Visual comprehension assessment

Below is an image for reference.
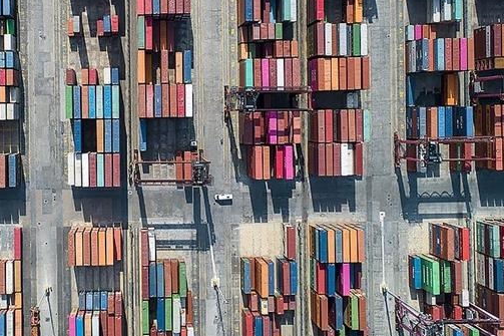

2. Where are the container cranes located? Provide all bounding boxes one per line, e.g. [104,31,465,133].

[397,300,503,336]
[224,84,312,117]
[133,153,213,187]
[395,134,500,164]
[474,75,504,103]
